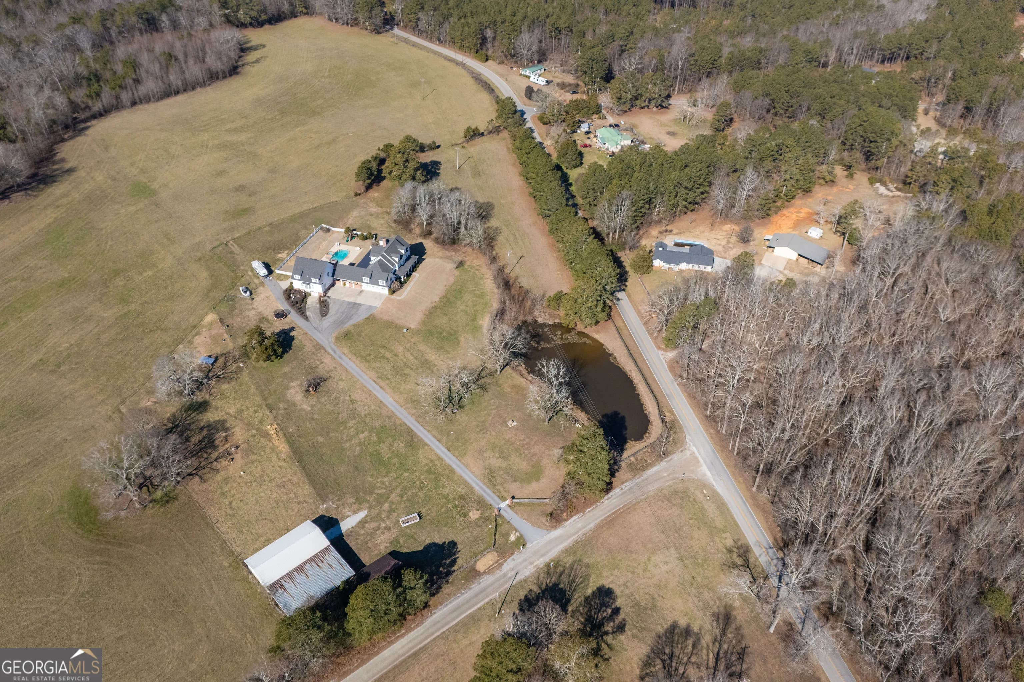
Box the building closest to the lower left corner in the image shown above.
[243,519,350,617]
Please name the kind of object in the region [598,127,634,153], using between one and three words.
building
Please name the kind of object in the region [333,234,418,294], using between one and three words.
house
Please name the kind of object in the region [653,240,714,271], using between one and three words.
house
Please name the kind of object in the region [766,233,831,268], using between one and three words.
building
